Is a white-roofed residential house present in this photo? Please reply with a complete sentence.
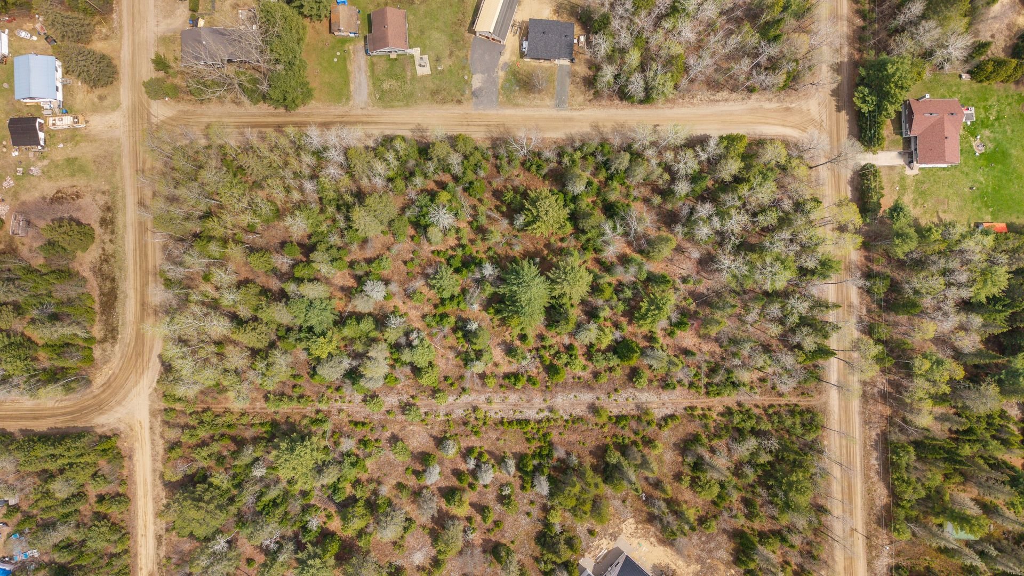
Yes, the image includes a white-roofed residential house.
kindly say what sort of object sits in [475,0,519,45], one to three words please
barn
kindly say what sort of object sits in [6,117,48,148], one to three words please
building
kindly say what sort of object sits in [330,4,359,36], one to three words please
shed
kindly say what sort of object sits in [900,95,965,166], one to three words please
house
